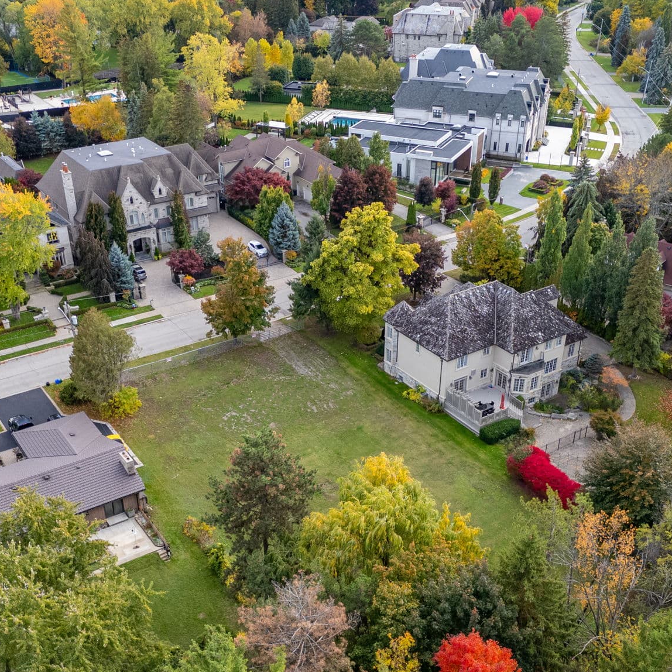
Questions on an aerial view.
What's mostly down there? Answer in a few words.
trees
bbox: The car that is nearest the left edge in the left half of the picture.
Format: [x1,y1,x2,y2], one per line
[8,411,30,433]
